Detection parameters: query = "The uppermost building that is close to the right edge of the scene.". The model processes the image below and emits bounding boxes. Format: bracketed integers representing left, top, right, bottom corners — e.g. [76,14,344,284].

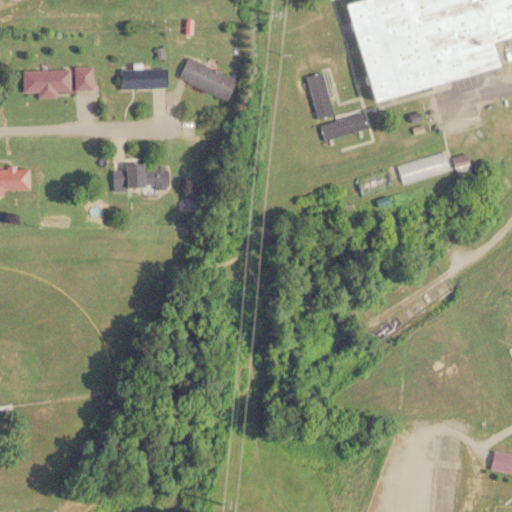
[344,0,512,106]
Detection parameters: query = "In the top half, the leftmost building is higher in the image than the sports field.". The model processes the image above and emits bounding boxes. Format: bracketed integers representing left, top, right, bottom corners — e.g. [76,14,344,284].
[0,165,31,198]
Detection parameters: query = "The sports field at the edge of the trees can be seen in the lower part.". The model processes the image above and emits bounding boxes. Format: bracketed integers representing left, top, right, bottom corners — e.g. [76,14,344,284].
[0,264,114,411]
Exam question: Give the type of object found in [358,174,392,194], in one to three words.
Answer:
greenhouse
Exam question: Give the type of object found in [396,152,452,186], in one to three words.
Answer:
shed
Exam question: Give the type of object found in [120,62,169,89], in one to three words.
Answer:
house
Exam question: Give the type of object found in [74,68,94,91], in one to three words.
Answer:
building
